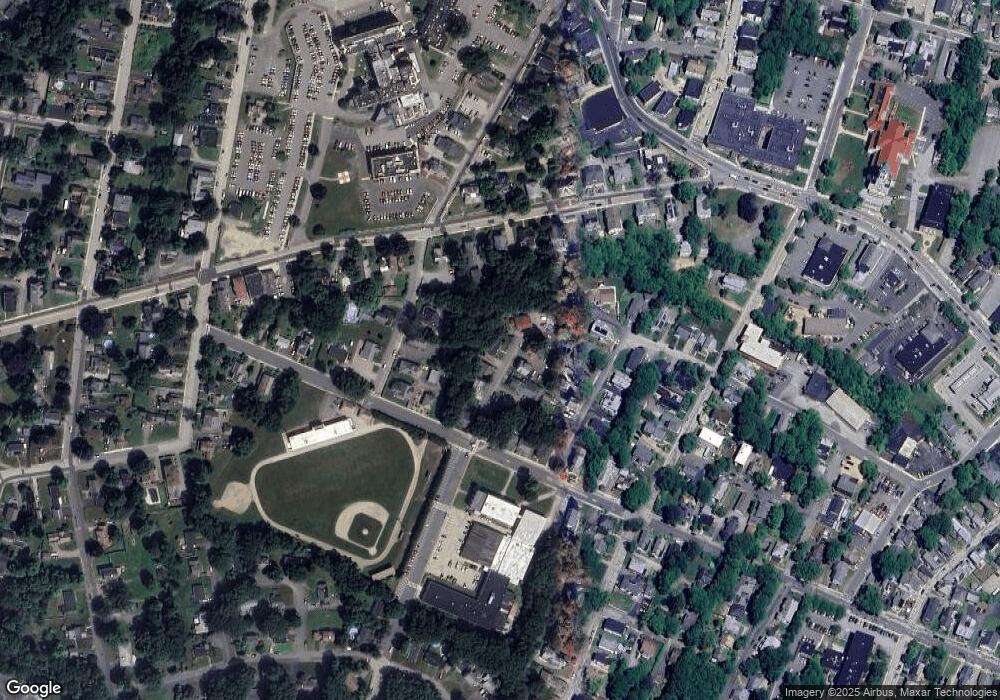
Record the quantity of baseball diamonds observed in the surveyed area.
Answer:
one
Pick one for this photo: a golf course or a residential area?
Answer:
residential area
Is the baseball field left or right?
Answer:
left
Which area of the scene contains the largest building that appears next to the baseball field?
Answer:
bottom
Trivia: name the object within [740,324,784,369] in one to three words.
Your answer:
building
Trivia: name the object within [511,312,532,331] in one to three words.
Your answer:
house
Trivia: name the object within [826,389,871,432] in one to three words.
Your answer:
shed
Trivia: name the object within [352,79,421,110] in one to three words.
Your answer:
building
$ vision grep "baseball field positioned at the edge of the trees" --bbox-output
[248,424,427,559]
